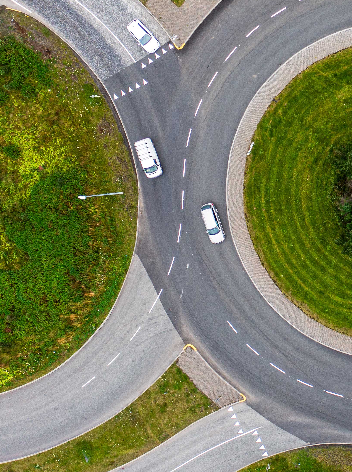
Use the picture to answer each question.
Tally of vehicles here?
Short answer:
3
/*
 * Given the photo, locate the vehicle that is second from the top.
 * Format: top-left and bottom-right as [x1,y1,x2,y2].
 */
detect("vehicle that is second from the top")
[133,137,162,181]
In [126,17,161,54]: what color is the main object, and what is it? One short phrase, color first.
white car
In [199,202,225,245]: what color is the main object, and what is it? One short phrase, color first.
white car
